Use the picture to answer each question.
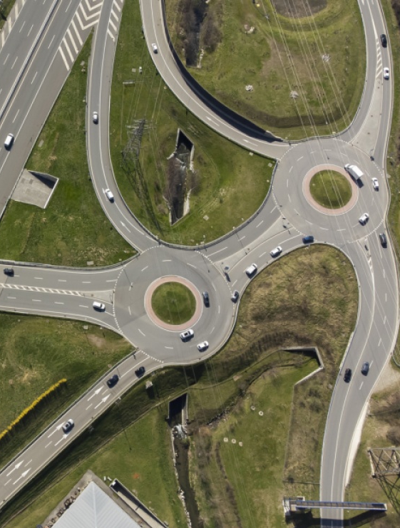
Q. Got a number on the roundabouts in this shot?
2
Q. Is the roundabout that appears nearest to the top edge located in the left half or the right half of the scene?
right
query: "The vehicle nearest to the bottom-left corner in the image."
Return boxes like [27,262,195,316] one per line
[61,420,75,434]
